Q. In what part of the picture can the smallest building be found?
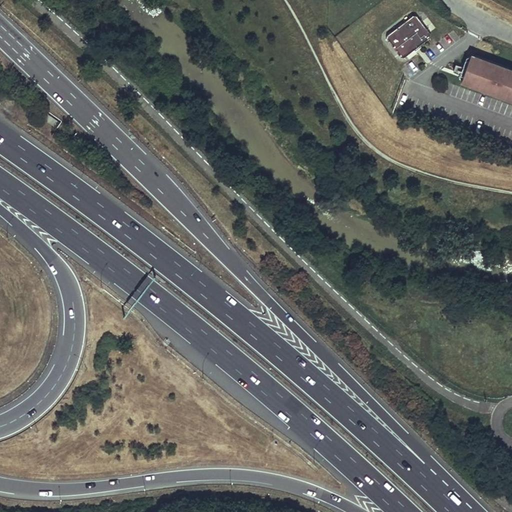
top right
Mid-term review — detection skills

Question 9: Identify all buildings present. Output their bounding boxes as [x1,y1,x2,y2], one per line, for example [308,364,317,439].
[386,16,431,59]
[460,56,512,104]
